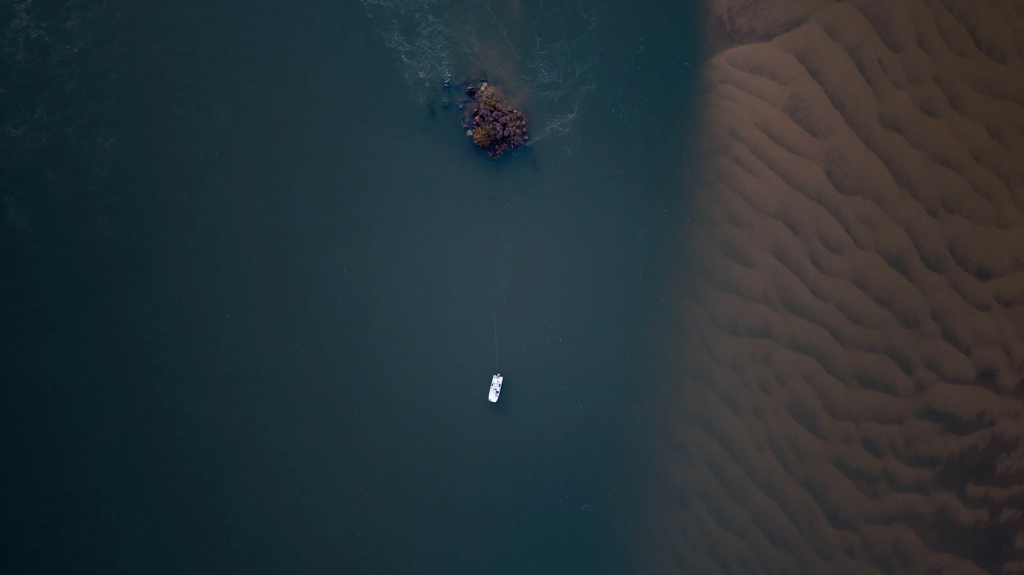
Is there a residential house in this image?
No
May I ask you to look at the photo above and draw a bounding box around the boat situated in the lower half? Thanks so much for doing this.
[489,374,503,403]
